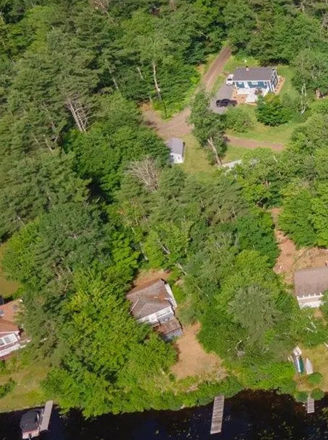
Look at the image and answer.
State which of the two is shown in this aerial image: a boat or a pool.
boat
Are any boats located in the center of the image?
No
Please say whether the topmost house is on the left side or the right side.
right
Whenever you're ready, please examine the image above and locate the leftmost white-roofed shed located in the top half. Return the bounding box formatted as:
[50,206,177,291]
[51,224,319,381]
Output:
[171,135,189,161]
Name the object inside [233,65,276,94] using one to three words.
house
